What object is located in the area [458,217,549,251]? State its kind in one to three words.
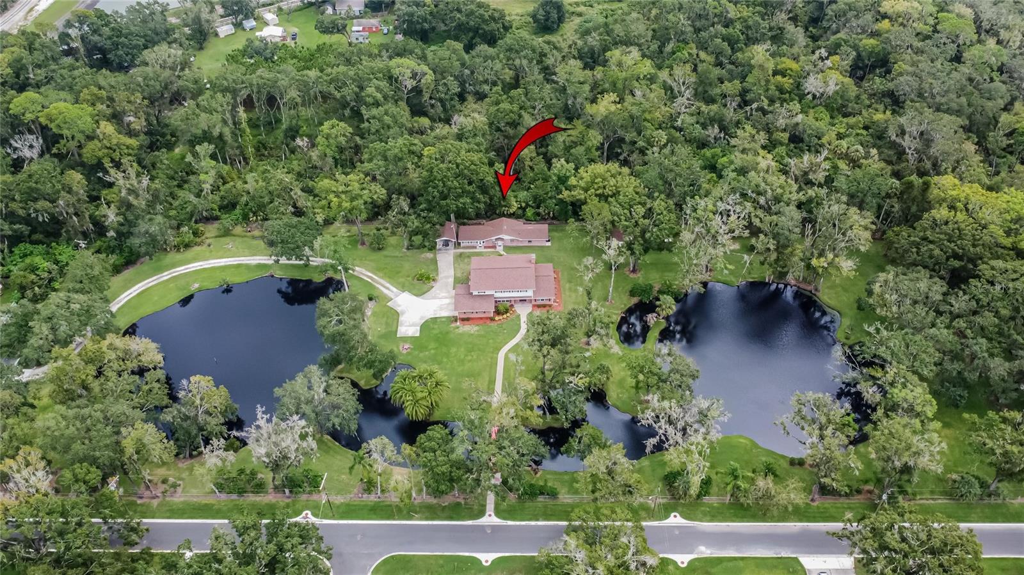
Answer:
house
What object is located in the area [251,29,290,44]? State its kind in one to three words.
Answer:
house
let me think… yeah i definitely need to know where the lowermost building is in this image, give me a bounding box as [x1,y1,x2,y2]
[455,255,555,318]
